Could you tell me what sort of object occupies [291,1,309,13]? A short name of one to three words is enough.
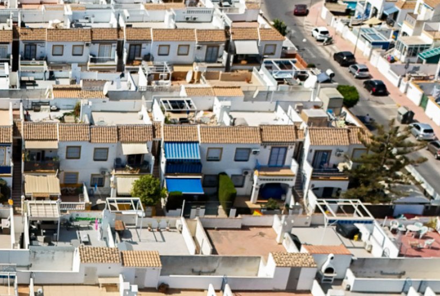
vehicle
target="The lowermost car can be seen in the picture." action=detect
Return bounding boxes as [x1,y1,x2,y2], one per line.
[423,137,440,156]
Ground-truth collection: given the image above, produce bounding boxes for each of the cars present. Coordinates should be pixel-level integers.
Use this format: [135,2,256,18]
[332,48,357,62]
[363,76,390,91]
[423,137,440,156]
[409,120,438,137]
[306,24,331,38]
[346,61,372,75]
[291,1,309,13]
